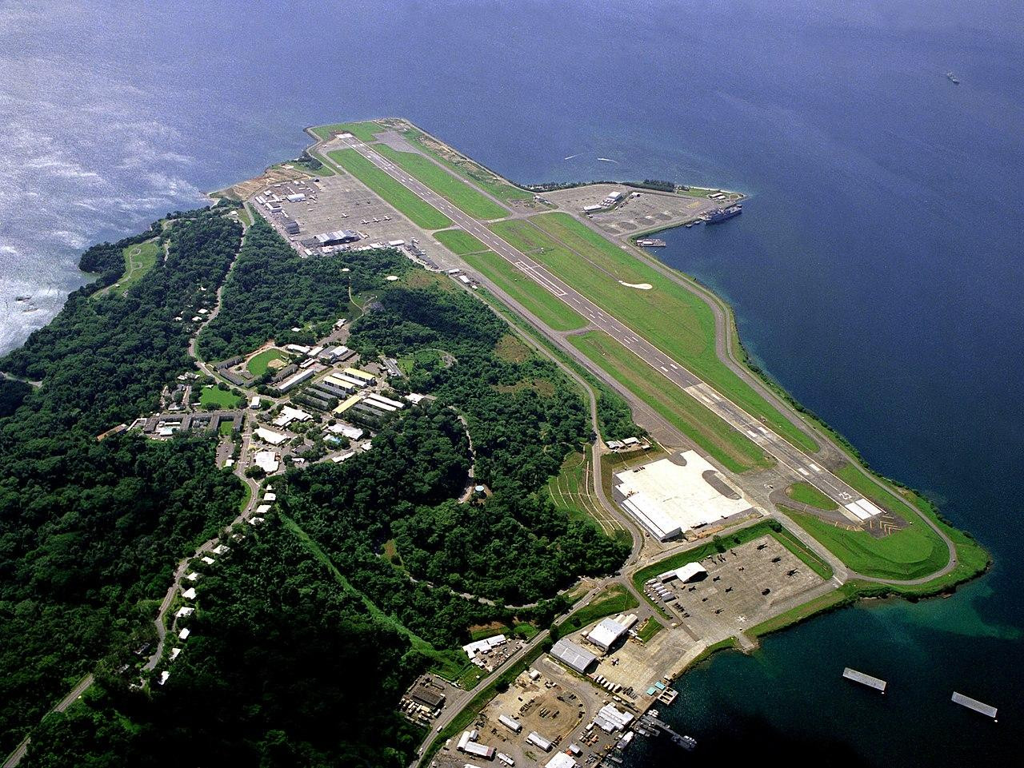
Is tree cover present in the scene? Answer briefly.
Yes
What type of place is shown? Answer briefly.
port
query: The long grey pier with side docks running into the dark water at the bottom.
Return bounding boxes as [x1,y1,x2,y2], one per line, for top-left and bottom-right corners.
[636,714,697,752]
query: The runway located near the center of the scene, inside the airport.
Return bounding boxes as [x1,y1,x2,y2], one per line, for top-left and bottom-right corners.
[334,131,903,535]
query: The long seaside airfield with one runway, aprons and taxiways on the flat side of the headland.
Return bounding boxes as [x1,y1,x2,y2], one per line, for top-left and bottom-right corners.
[248,121,985,768]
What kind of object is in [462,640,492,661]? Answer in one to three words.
building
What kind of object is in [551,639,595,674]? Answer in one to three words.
hangar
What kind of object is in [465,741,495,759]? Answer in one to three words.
shed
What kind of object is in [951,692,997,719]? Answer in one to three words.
ship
